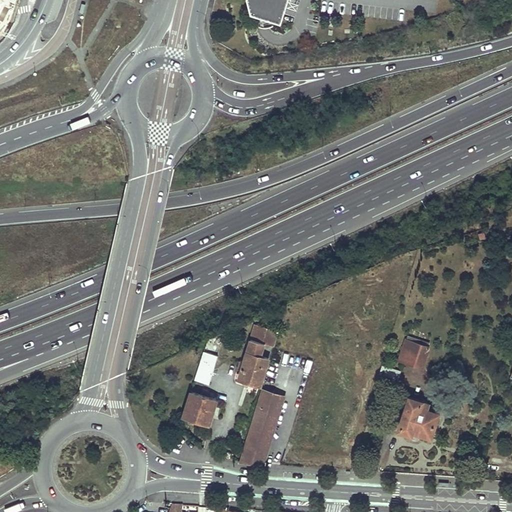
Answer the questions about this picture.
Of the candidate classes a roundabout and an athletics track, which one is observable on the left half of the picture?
roundabout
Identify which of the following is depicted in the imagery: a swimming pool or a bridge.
bridge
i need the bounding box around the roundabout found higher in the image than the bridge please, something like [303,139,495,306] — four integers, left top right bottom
[116,46,214,146]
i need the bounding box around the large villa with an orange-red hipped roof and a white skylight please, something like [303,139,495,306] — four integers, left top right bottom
[398,399,440,444]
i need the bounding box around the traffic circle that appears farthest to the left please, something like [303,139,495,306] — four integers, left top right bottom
[33,374,148,512]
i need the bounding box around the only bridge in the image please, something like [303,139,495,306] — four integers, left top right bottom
[79,166,174,393]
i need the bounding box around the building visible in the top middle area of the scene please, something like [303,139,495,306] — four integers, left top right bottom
[246,0,288,28]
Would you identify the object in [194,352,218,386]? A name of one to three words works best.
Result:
shed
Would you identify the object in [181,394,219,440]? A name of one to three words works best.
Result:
house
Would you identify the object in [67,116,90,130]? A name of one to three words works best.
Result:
vehicle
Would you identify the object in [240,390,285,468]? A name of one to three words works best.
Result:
building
